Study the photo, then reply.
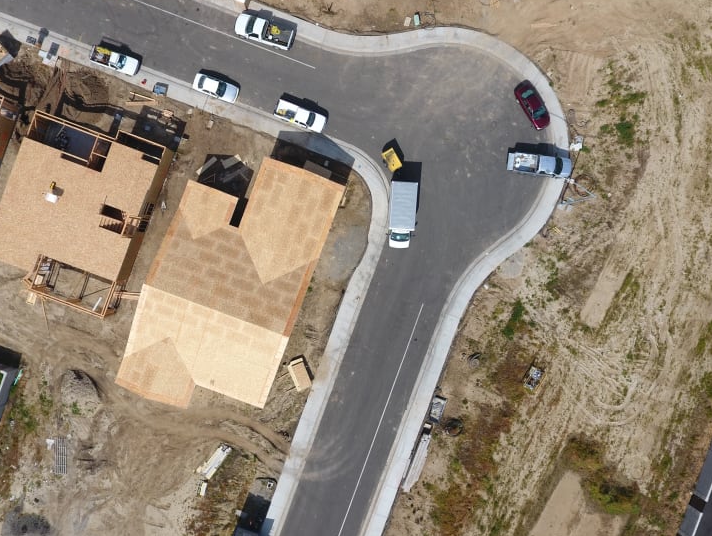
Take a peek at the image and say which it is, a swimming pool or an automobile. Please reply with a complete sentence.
There is an automobile in the scene.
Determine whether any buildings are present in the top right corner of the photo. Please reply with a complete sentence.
No, I see no building in the top right corner of the photo.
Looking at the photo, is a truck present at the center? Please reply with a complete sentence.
Yes, at the center there is a truck.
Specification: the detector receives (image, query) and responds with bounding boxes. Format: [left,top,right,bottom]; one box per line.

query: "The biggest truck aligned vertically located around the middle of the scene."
[384,176,418,247]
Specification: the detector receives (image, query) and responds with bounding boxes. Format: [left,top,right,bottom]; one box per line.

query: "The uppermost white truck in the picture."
[233,15,296,51]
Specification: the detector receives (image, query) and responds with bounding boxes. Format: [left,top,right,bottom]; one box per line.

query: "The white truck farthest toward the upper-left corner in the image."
[88,42,144,77]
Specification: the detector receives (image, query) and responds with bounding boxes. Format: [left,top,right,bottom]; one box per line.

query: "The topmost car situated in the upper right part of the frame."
[513,80,549,133]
